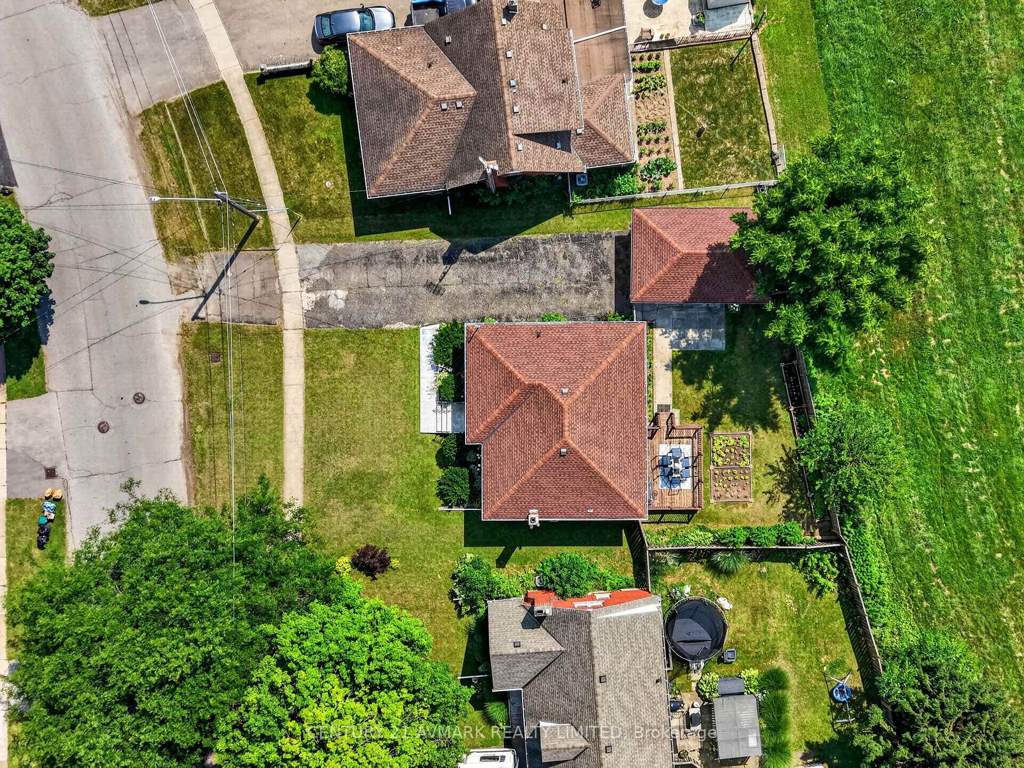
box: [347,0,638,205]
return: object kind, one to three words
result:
house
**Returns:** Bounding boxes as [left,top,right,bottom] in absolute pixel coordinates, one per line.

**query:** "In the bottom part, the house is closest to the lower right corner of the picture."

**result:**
[489,585,675,768]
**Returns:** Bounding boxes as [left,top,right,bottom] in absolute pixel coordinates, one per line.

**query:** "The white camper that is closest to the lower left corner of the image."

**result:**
[462,741,518,768]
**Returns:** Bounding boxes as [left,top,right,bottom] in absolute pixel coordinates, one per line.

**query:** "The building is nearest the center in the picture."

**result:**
[466,322,648,525]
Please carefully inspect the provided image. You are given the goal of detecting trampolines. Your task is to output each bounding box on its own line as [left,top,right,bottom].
[668,595,728,662]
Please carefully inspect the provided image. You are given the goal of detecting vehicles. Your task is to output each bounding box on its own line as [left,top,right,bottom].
[462,741,518,768]
[313,5,396,49]
[408,0,469,26]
